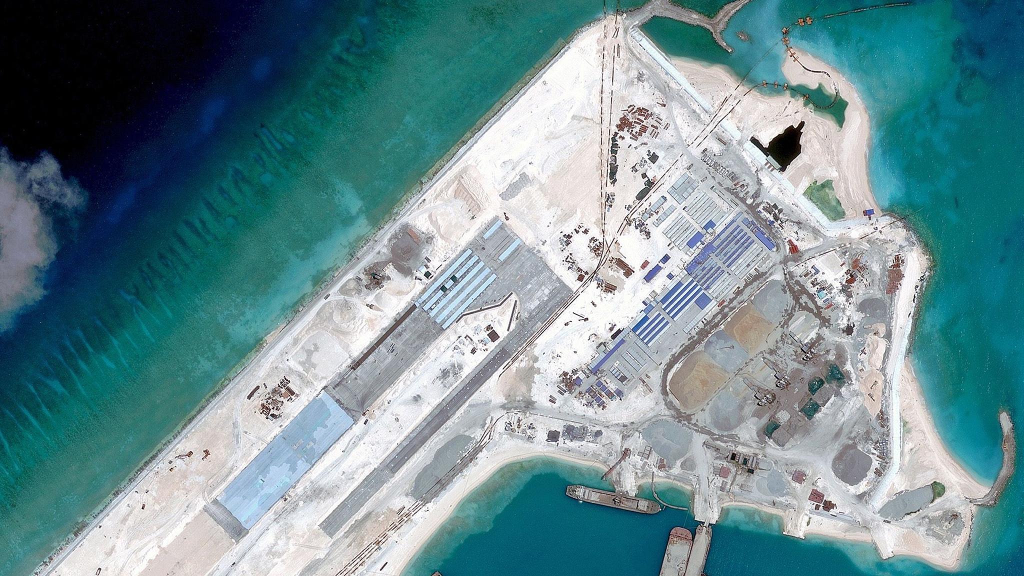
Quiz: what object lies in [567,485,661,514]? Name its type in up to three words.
ship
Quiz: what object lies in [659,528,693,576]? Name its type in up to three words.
ship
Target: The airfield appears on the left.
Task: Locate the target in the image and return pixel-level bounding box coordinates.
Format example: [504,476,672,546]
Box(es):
[203,217,573,541]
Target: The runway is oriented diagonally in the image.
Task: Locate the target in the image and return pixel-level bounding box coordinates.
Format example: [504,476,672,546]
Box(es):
[205,217,528,540]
